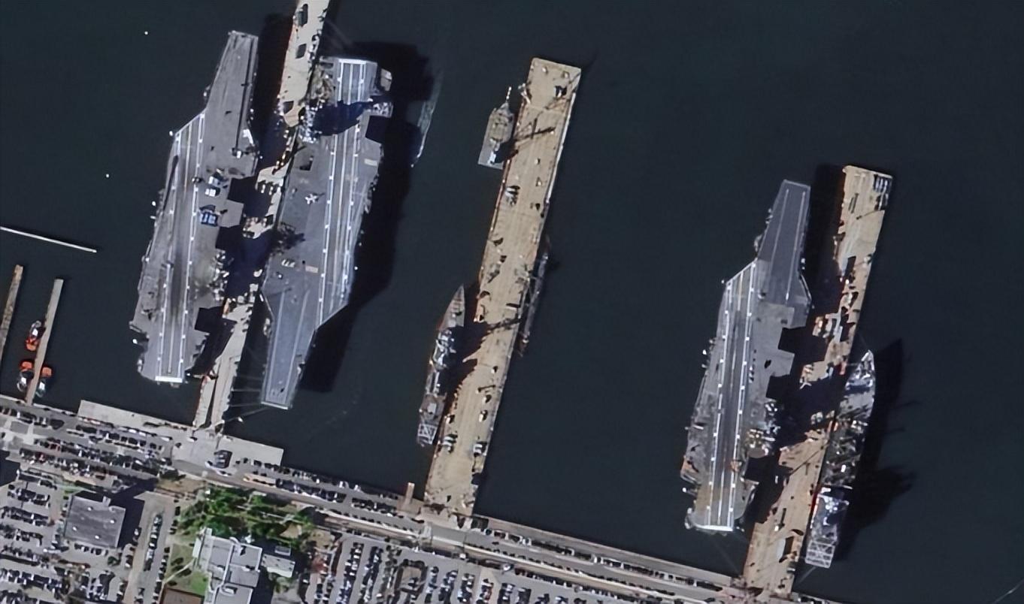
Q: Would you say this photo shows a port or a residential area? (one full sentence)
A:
What you see here is a port.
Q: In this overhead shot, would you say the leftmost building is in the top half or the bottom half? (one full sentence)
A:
The bottom half of the photo is where the leftmost building is.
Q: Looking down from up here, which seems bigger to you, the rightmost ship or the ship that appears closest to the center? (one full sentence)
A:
Of the two, the rightmost ship is larger and the ship that appears closest to the center is the smaller one.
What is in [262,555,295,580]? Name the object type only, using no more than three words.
building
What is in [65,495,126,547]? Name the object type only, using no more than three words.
building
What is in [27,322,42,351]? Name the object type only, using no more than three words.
boat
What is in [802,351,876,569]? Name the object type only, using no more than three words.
ship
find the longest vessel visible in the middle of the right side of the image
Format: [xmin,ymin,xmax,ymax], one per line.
[680,179,814,536]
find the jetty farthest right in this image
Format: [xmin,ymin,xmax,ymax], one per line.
[741,166,893,599]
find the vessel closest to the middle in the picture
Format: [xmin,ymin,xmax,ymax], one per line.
[523,250,548,353]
